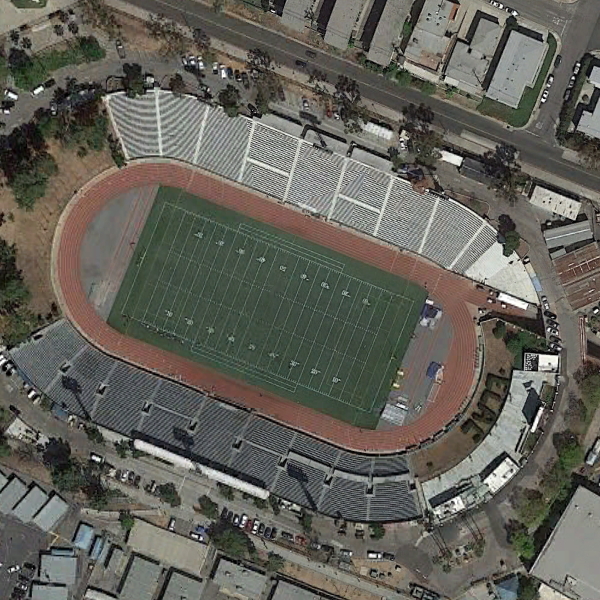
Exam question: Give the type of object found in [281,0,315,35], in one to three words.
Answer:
house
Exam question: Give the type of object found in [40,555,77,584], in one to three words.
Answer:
building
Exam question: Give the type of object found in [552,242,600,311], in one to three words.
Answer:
building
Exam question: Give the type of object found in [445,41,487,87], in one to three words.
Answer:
house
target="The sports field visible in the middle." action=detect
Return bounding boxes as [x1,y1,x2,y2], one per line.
[106,186,429,428]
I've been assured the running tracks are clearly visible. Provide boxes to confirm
[57,163,542,451]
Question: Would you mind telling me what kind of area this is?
sports ground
